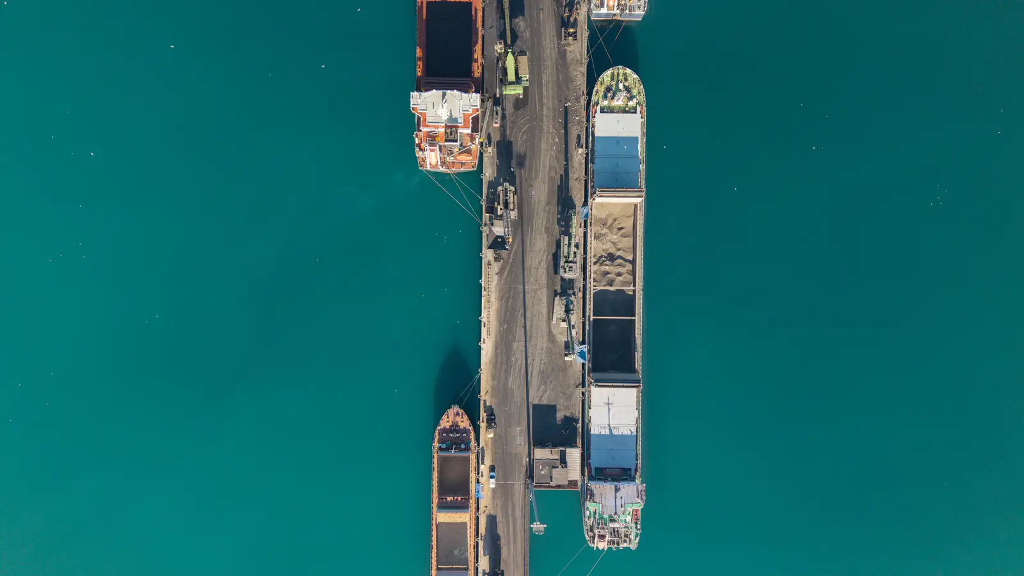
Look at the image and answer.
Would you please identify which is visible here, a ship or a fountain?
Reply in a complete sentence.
Of the two, only a ship appears.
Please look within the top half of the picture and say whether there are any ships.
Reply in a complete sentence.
Yes, a ship is visible within the top half of the picture.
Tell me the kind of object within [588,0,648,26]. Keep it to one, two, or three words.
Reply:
ship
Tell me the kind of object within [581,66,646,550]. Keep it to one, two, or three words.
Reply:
ship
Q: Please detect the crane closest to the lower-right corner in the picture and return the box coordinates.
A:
[552,289,577,353]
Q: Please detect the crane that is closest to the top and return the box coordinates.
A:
[495,0,529,98]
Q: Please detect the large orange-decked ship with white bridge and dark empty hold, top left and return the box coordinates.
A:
[411,0,482,174]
